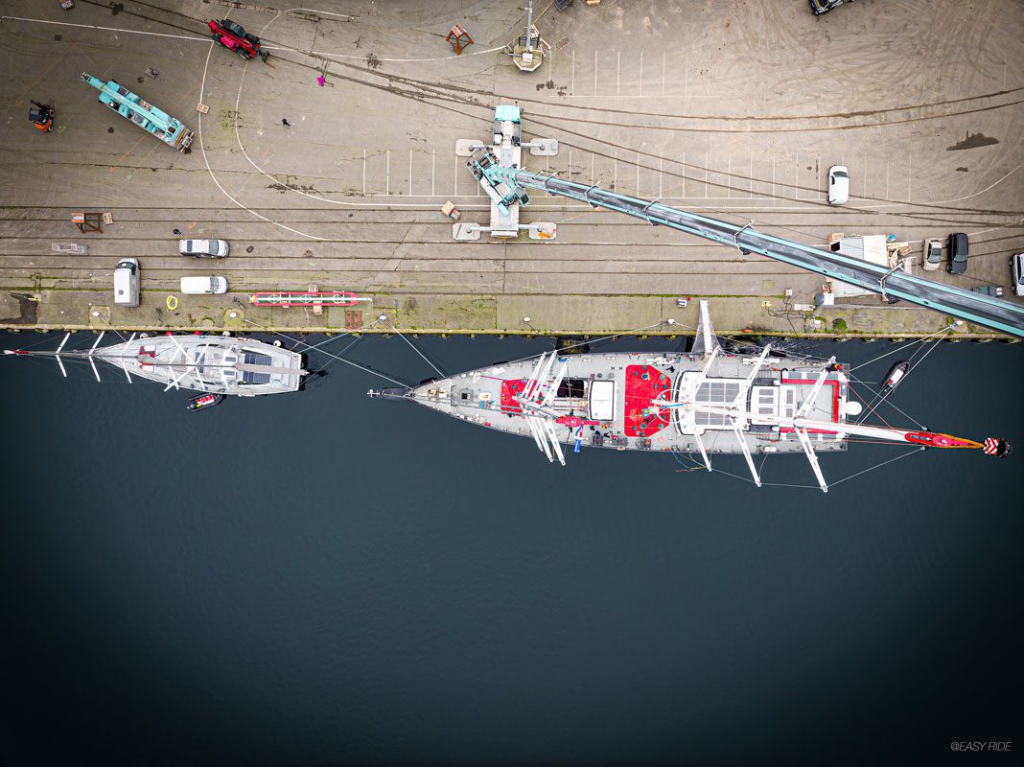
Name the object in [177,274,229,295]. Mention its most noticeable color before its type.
white vehicle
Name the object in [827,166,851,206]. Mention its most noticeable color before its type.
white car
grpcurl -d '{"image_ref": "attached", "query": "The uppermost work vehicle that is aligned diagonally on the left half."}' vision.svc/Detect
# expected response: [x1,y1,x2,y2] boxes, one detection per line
[207,14,276,69]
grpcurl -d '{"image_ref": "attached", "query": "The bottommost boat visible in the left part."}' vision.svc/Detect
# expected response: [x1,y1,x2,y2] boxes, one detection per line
[185,392,224,413]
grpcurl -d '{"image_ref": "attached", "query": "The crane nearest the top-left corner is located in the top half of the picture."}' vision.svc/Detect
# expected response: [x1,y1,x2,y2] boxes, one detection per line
[78,66,196,159]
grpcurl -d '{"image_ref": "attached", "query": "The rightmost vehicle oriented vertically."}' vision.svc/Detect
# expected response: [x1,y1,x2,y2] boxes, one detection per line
[1004,252,1024,297]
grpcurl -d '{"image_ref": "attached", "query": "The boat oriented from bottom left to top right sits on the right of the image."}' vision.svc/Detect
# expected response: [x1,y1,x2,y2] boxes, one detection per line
[881,359,912,396]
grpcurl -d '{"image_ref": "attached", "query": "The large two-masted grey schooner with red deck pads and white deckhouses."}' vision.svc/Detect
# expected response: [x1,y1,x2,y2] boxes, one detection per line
[369,343,980,493]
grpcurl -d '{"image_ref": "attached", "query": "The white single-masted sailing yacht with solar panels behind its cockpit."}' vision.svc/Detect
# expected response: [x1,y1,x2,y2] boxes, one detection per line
[0,332,306,396]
